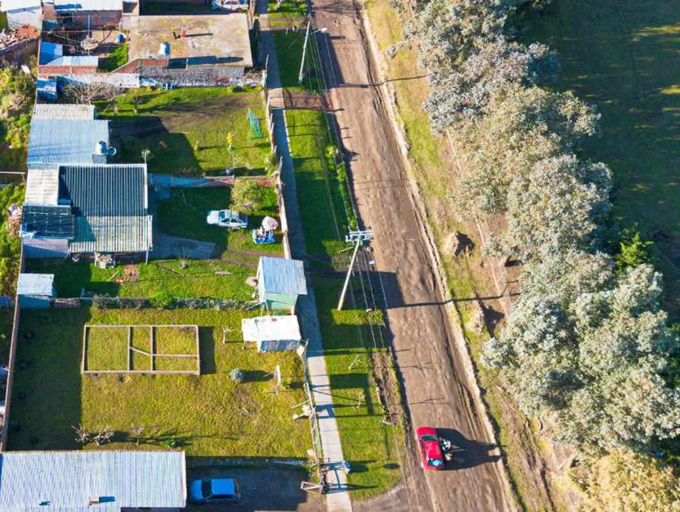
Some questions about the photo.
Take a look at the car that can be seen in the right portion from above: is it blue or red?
red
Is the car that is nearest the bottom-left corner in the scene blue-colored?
Yes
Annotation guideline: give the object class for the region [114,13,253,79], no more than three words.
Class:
house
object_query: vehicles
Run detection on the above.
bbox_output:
[214,0,250,13]
[190,478,241,505]
[206,209,249,230]
[415,427,446,474]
